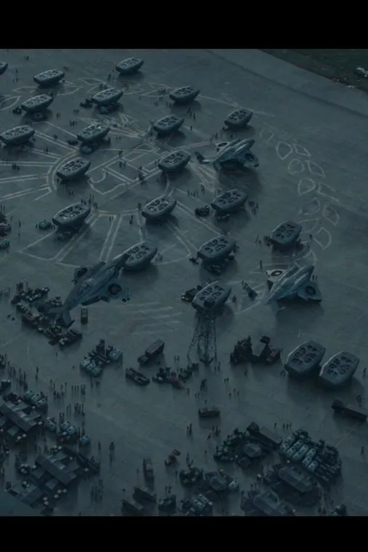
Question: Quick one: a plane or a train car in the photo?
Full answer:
It is a plane that can be seen here.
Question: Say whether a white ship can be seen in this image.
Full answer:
No, there isn't any white ship down there.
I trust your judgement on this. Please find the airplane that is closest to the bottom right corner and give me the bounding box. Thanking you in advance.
[250,269,314,313]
